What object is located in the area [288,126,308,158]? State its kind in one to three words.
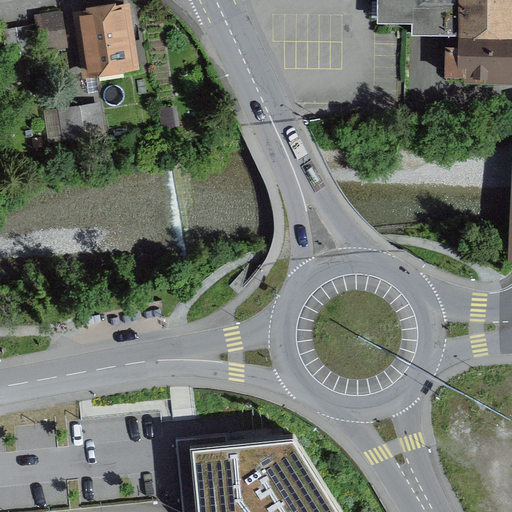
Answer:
truck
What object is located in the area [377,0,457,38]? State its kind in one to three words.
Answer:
building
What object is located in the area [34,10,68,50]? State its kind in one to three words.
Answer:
shed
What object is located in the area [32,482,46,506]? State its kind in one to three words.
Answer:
car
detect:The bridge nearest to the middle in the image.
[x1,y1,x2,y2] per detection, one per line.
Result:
[236,112,390,294]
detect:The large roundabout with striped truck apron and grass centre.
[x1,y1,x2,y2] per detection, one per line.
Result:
[270,248,445,422]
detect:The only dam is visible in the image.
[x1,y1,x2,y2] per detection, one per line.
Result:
[166,170,197,262]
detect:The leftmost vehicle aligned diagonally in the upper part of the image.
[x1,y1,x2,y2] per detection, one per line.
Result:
[248,100,266,121]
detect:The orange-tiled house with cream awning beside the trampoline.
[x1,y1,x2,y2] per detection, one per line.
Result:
[74,4,139,80]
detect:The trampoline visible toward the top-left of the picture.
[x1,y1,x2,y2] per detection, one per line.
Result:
[104,84,124,106]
